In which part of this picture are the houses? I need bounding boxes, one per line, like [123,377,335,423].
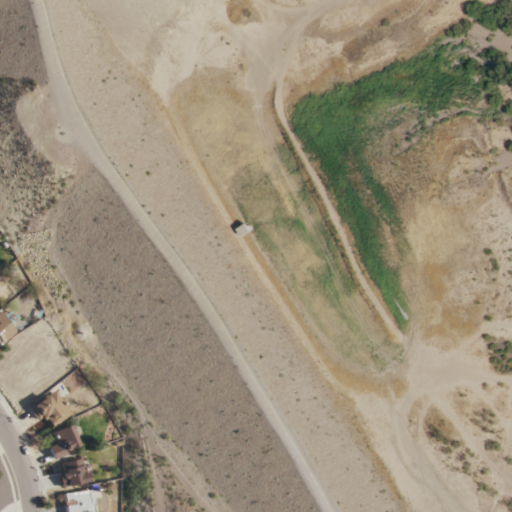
[51,426,84,462]
[38,388,76,426]
[64,458,96,486]
[0,316,16,348]
[59,490,96,512]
